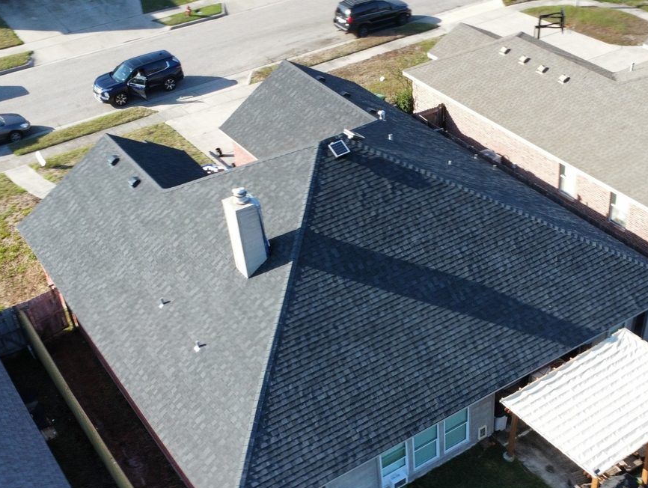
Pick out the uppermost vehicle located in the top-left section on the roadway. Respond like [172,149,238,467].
[83,44,185,104]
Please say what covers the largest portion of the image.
buildings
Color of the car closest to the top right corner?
black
